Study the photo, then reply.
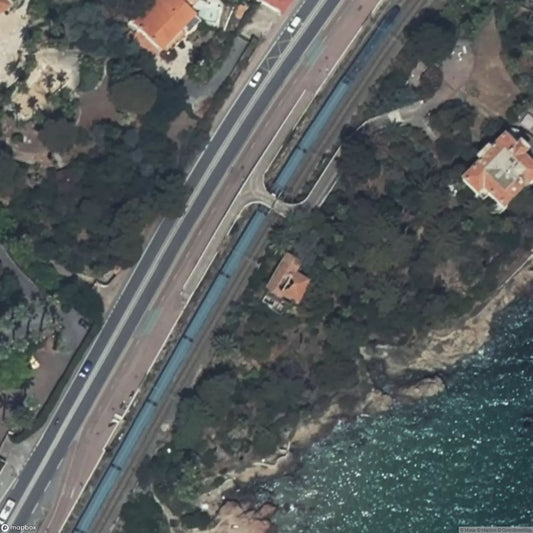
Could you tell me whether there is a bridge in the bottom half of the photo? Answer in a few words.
No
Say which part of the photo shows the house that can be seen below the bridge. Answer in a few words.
center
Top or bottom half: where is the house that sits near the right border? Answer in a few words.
top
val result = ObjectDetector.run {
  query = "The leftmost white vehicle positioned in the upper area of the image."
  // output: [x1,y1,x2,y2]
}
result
[247,70,262,87]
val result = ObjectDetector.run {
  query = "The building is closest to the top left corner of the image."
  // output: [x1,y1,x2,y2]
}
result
[128,0,202,54]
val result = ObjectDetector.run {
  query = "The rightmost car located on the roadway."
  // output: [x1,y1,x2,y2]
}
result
[287,16,302,33]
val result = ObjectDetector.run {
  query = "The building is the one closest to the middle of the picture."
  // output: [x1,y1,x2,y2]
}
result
[262,252,310,311]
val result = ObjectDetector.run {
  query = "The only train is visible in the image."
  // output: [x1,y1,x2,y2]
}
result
[74,8,399,533]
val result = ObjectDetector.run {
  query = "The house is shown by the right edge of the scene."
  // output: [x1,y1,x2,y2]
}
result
[463,131,533,215]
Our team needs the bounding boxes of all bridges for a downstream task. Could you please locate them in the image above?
[256,189,302,219]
